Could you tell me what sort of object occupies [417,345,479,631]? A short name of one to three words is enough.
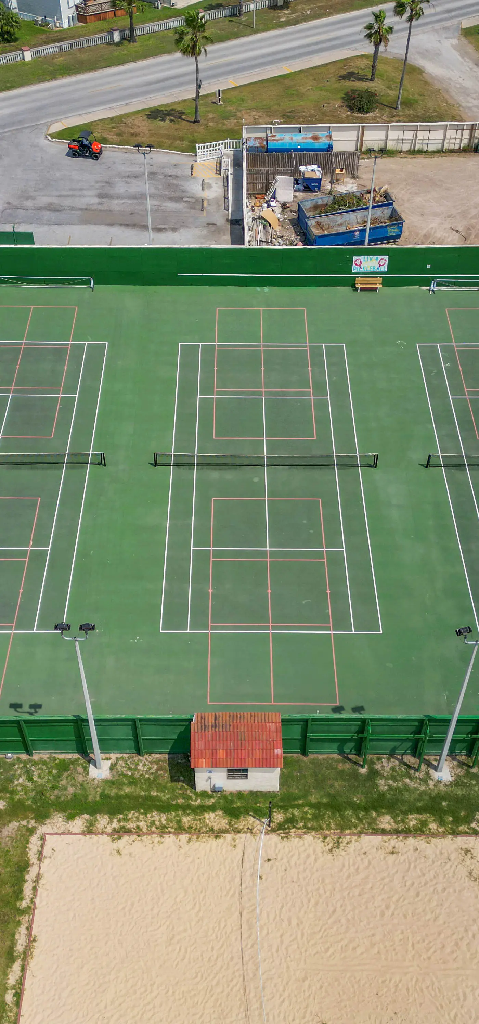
tennis court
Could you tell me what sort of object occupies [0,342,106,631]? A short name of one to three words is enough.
tennis court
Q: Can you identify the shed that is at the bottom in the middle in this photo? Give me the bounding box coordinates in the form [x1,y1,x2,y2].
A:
[191,712,283,794]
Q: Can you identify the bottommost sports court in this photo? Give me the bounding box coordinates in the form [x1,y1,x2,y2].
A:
[16,832,479,1024]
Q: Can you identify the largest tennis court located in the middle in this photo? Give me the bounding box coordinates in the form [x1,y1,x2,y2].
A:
[161,343,381,632]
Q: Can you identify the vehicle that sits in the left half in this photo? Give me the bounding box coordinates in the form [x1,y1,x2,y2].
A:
[66,131,106,160]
